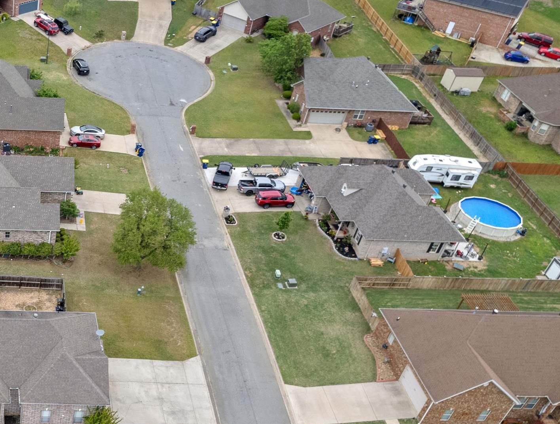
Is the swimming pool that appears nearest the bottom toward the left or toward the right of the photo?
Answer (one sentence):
The swimming pool that appears nearest the bottom appears in the right half of the scene.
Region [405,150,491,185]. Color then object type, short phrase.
white vehicle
